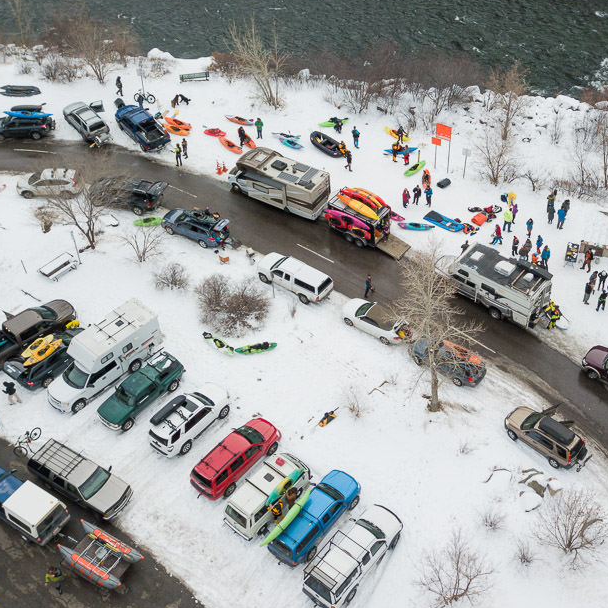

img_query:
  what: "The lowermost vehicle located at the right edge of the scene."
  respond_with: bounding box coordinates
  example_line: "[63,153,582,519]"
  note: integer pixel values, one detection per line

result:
[499,403,602,477]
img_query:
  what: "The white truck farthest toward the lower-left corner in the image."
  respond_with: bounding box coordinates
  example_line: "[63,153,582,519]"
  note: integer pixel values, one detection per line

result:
[0,465,73,553]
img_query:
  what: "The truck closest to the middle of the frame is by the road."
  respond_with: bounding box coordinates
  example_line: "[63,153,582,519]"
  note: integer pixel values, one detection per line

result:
[254,252,336,308]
